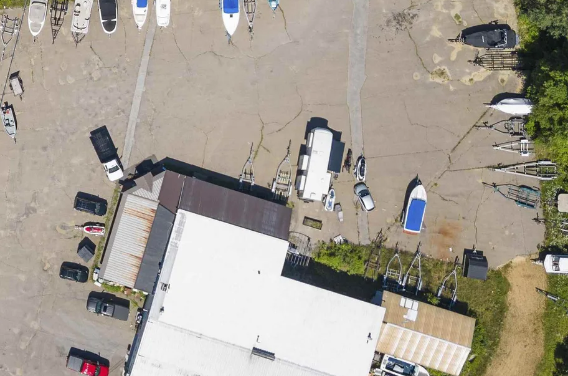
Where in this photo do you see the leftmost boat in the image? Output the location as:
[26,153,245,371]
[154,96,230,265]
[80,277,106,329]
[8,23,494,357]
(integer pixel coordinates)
[0,106,14,139]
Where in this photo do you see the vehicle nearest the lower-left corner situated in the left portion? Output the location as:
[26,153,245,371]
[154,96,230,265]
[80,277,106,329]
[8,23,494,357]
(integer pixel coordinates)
[65,355,110,376]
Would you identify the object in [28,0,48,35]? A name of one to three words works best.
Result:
boat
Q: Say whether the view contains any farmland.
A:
No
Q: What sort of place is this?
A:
parking lot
